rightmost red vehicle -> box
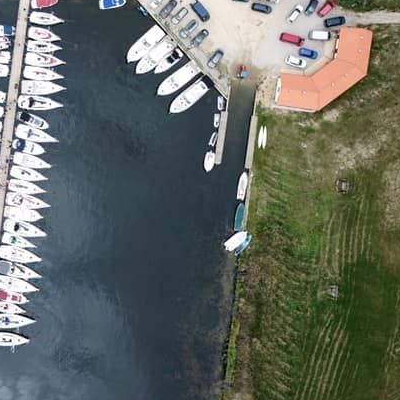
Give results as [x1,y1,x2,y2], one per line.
[315,0,337,20]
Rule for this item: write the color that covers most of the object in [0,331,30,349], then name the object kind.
white boat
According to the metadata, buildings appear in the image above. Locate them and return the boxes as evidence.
[274,27,372,110]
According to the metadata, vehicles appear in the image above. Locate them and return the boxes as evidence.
[189,28,209,48]
[285,5,303,24]
[191,0,211,22]
[283,55,305,68]
[307,31,330,40]
[278,32,304,48]
[170,7,188,25]
[322,16,345,28]
[205,49,225,69]
[149,0,163,9]
[157,0,176,20]
[303,0,317,17]
[250,2,272,14]
[315,0,337,20]
[235,60,250,78]
[297,47,318,60]
[177,19,199,40]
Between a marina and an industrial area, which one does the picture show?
marina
